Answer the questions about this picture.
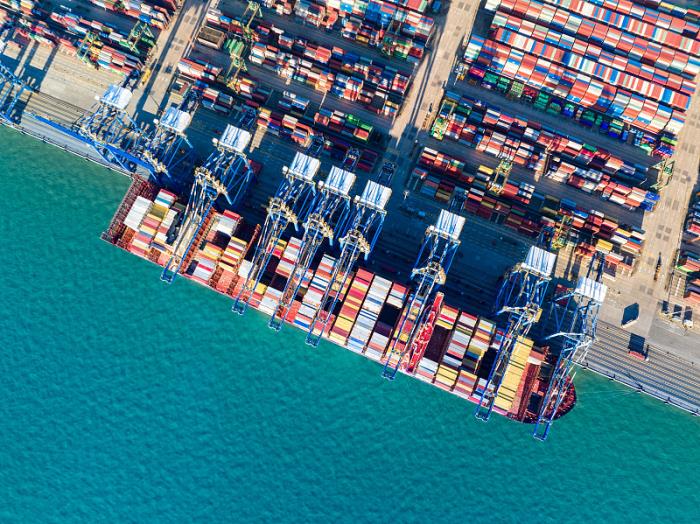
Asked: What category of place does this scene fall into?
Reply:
port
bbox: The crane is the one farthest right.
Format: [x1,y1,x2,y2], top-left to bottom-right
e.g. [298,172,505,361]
[649,154,686,196]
